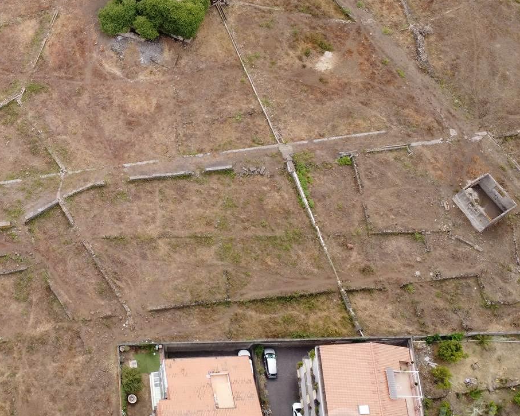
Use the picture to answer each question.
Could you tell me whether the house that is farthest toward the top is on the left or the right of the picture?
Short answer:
right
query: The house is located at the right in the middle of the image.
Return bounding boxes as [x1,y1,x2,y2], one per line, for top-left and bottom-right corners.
[452,174,517,230]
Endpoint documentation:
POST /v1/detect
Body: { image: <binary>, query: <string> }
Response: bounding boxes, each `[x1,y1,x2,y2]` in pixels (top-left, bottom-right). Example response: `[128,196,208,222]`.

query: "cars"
[289,402,300,416]
[261,349,279,379]
[237,349,256,376]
